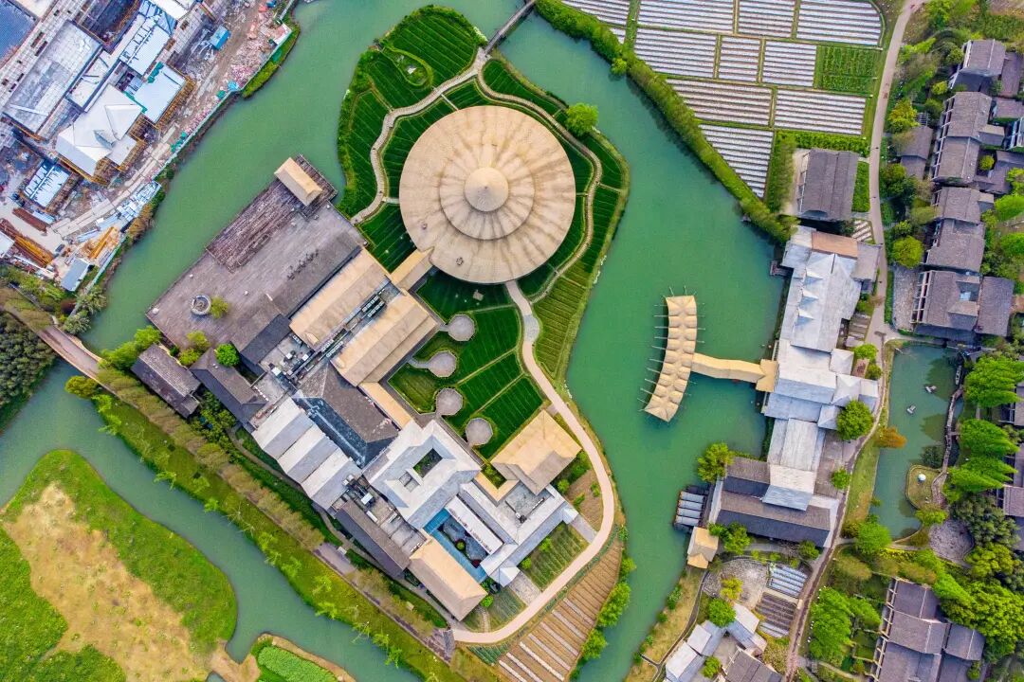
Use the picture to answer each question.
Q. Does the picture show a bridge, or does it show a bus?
bridge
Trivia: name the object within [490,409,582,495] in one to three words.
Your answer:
building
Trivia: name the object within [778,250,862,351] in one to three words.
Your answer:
building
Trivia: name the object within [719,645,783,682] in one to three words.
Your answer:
house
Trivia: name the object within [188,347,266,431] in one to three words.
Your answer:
house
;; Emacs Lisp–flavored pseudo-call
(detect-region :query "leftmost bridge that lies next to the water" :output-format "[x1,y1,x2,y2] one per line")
[31,315,115,390]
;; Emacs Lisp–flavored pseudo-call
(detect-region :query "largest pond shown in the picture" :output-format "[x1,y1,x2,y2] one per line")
[870,343,962,538]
